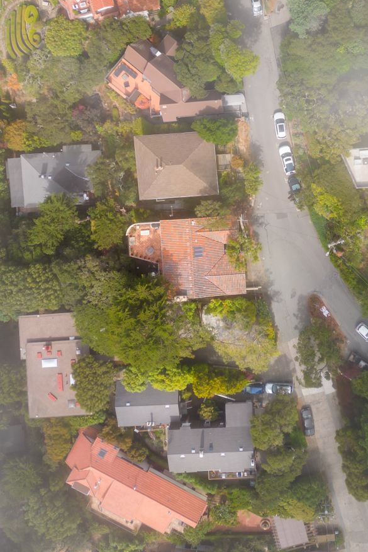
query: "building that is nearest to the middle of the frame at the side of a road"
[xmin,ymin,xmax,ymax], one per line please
[127,216,247,303]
